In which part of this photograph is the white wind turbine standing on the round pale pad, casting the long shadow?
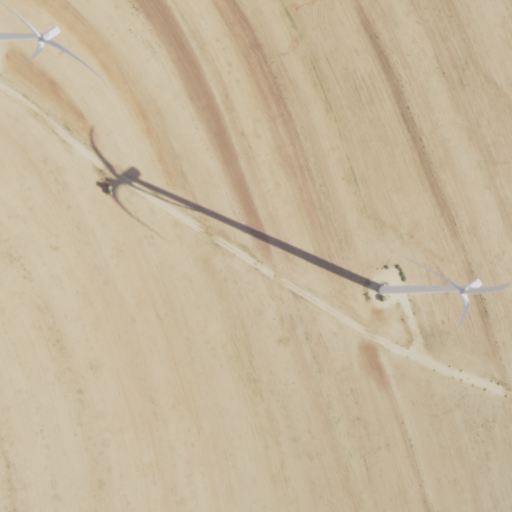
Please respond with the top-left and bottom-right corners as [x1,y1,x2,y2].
[377,254,510,330]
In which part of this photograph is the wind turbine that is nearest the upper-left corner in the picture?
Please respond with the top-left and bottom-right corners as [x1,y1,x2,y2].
[0,0,106,80]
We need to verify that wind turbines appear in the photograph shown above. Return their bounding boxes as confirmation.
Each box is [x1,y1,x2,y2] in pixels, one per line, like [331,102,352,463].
[377,254,510,330]
[0,0,106,80]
